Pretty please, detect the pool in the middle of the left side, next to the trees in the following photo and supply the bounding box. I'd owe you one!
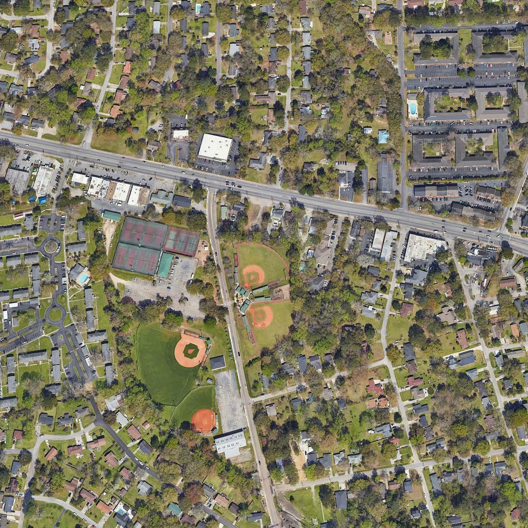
[75,270,93,288]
